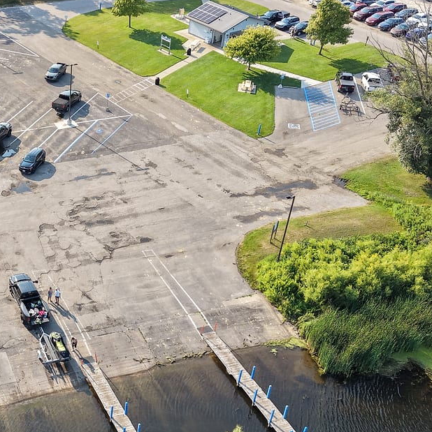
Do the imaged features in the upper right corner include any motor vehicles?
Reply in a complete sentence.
Yes, a motor vehicle can be seen in the upper right corner.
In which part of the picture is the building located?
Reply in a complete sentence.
The building appears toward the top of the photo.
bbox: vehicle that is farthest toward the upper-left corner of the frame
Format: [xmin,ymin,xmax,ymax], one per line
[46,62,67,80]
